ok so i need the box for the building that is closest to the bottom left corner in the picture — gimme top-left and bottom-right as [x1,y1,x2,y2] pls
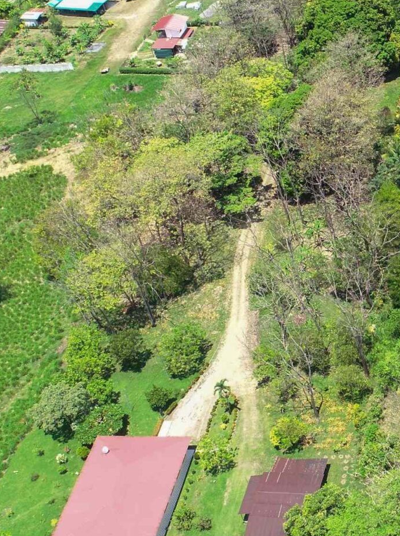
[53,436,199,536]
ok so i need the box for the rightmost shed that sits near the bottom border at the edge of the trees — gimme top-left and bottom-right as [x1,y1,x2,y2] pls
[238,457,328,536]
